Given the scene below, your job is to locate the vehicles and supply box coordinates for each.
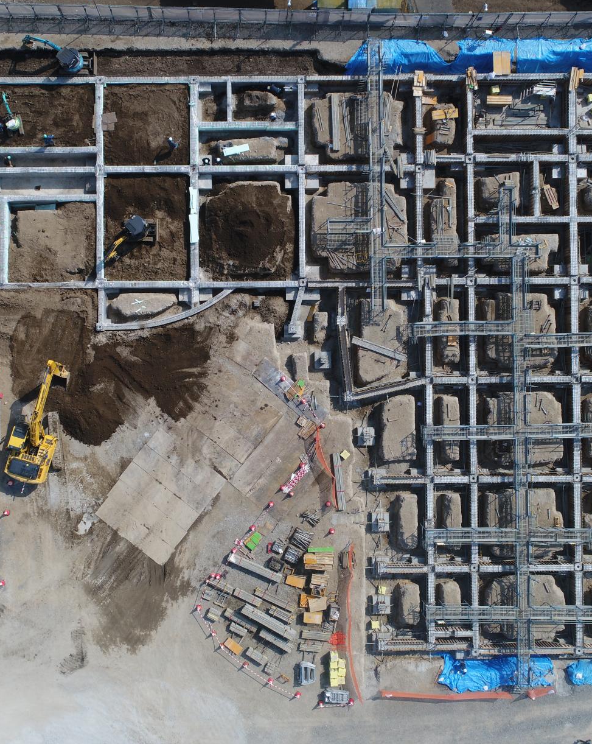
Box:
[23,29,94,76]
[104,214,165,270]
[0,88,33,137]
[0,356,76,486]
